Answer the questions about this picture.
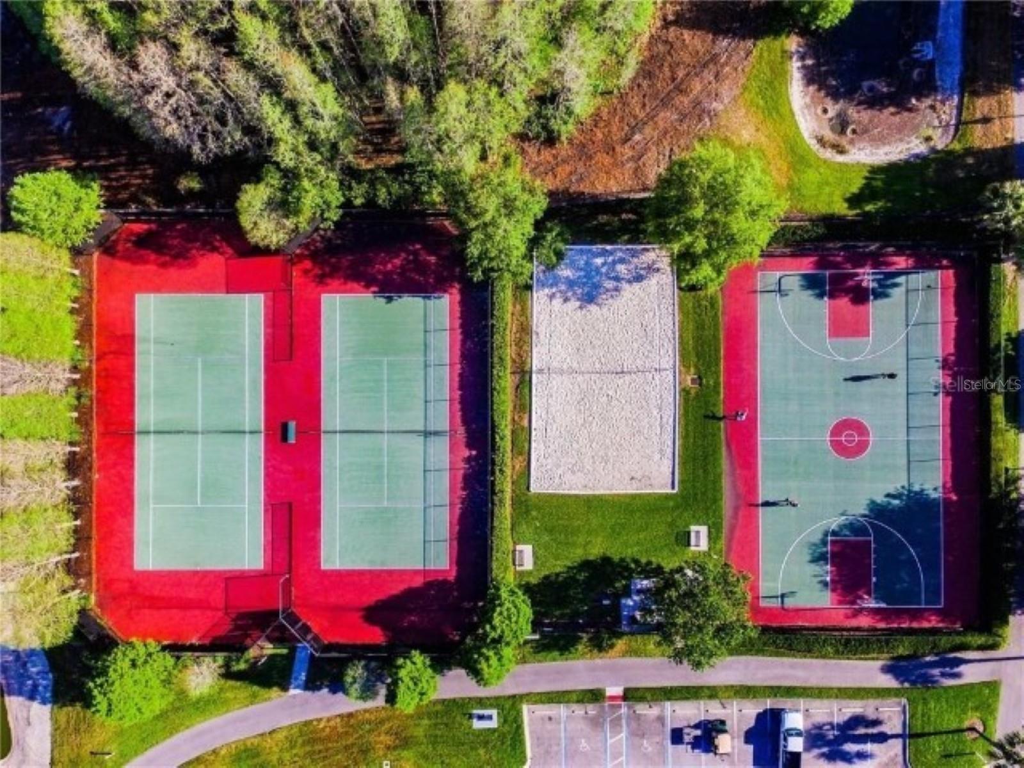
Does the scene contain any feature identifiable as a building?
No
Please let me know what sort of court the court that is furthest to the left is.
tennis court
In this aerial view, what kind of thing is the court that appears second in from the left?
tennis court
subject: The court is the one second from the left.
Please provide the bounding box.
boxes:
[291,221,491,643]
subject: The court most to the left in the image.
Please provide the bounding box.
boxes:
[93,221,291,643]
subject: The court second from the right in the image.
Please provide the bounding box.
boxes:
[529,244,678,494]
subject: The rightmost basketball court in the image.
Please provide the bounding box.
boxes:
[723,252,974,626]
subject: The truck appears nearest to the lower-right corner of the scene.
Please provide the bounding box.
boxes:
[776,707,806,768]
